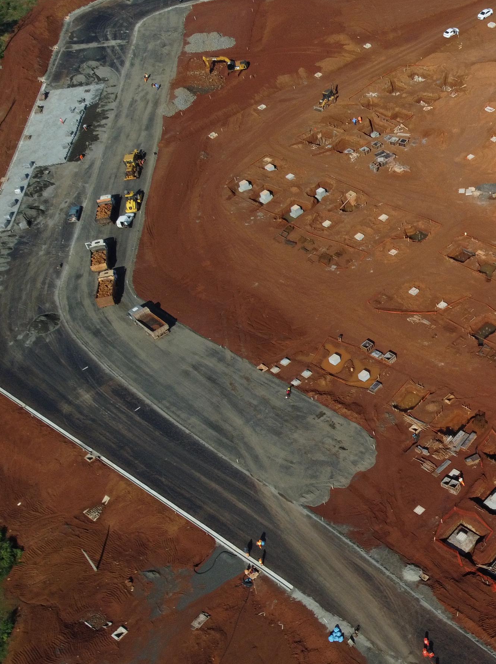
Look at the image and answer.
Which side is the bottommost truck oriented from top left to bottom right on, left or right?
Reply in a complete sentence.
You can find the bottommost truck oriented from top left to bottom right on the left side of the picture.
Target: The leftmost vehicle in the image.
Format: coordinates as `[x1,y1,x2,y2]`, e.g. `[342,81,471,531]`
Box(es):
[66,206,82,223]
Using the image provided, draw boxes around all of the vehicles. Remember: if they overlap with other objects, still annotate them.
[126,151,143,182]
[114,208,139,228]
[66,206,82,223]
[441,26,460,36]
[476,9,494,20]
[132,307,171,343]
[85,242,111,277]
[97,271,118,310]
[124,188,139,212]
[96,197,116,231]
[312,86,338,114]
